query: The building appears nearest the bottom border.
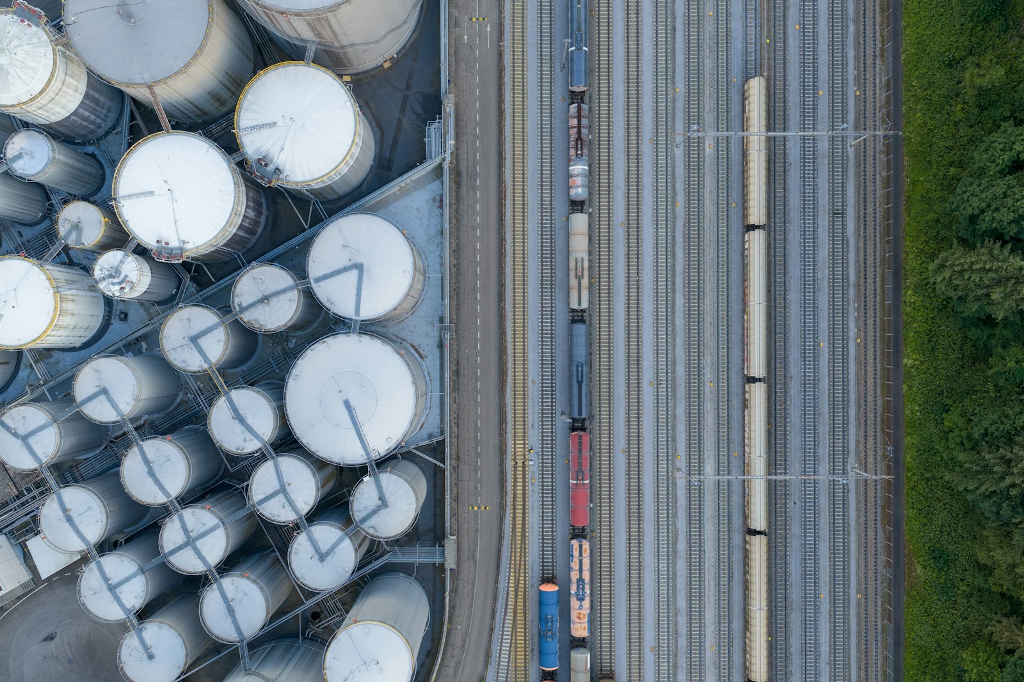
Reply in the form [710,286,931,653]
[0,526,42,598]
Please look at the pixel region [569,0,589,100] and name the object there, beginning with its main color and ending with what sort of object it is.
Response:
blue rail car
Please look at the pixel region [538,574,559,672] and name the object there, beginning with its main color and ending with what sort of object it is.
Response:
blue rail car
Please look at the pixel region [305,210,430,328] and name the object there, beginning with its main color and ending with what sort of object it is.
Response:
white storage tank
